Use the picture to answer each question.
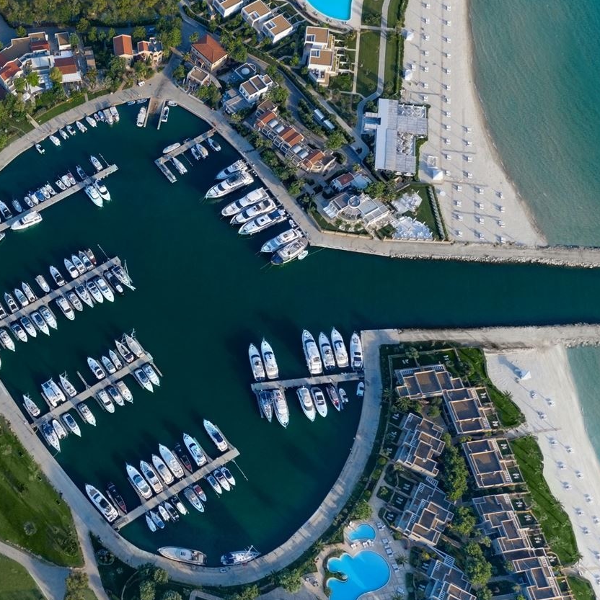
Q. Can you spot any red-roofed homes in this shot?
Yes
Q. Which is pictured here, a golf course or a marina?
marina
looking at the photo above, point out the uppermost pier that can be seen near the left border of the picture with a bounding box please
[0,153,117,233]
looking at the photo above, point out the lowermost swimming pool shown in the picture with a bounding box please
[325,549,392,600]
